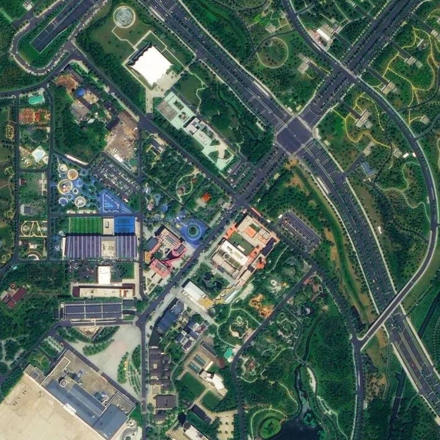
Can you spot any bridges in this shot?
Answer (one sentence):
Yes, a bridge appears in the view.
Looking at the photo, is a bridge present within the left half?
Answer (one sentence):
No, no bridge appears within the left half.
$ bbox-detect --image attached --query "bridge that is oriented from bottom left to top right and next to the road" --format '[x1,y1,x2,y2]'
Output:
[358,233,438,344]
